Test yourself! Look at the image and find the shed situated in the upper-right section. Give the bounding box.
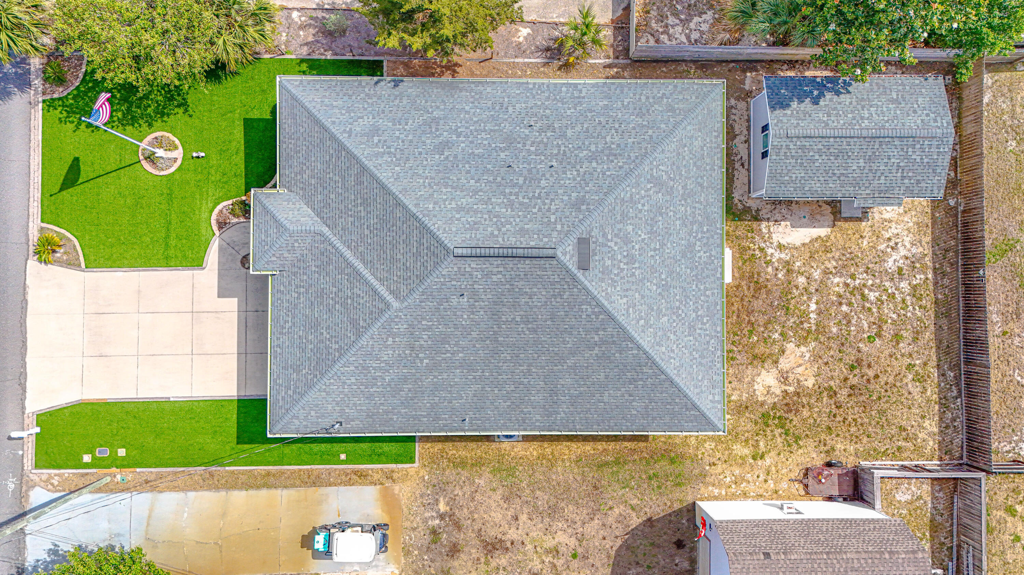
[747,74,955,218]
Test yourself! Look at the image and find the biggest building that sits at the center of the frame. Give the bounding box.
[251,76,726,437]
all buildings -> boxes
[747,74,955,218]
[694,499,931,575]
[251,76,726,437]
